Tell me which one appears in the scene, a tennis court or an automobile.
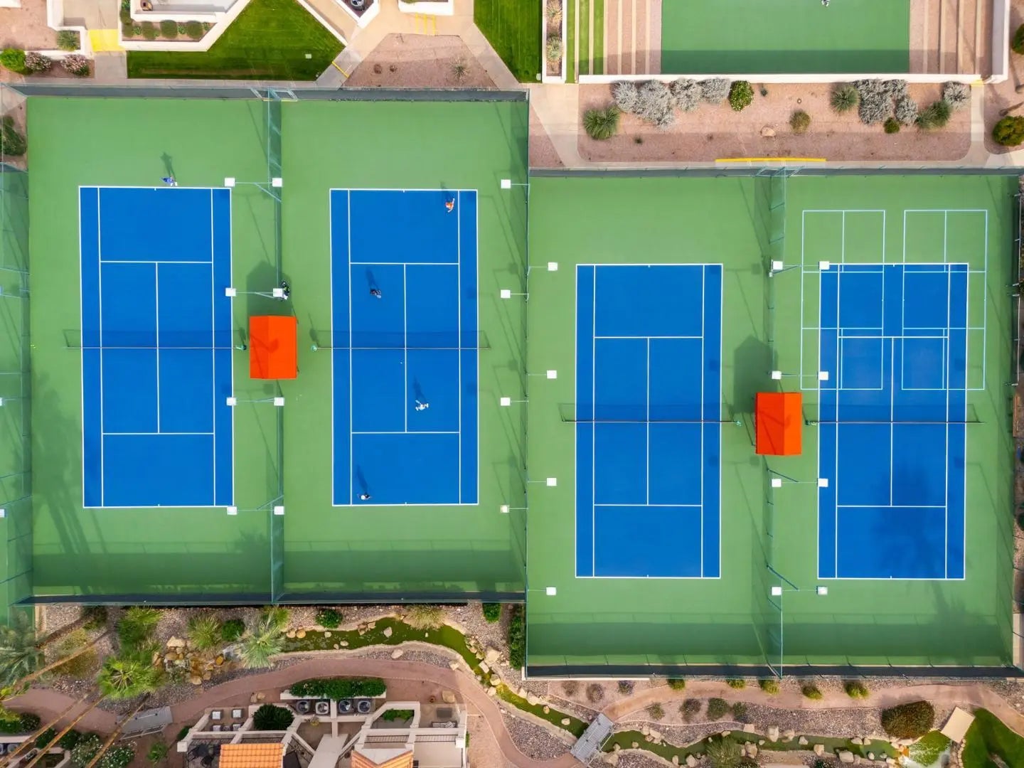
tennis court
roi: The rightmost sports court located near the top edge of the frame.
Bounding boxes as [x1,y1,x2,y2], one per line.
[661,0,910,74]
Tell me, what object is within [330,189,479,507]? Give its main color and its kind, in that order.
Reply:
blue tennis court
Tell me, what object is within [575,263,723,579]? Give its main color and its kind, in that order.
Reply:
blue tennis court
